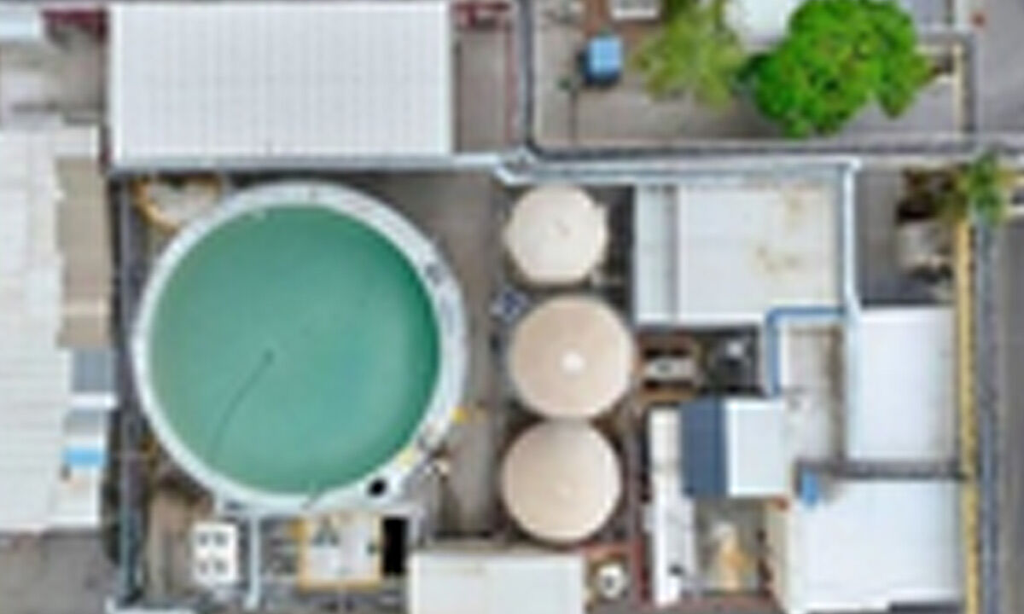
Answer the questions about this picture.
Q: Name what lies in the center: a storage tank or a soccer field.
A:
storage tank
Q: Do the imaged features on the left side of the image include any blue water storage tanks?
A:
No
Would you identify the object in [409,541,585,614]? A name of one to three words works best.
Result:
shed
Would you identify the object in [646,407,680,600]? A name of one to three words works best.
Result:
building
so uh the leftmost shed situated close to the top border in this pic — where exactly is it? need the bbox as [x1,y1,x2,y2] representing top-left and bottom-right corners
[0,10,58,47]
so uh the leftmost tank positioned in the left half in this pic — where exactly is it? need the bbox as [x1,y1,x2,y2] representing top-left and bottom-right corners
[135,182,466,514]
